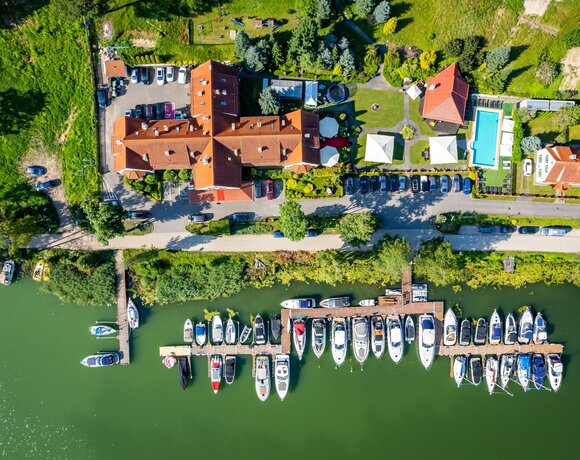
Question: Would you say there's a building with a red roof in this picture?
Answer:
Yes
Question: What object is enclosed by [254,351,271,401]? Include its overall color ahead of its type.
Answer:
white boat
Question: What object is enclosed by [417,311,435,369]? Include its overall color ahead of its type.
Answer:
white boat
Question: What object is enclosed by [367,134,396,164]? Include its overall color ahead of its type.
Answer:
white tent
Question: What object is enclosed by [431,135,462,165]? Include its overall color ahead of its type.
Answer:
white tent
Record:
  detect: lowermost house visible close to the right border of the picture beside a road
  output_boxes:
[532,145,580,195]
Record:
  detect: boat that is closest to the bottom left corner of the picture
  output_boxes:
[80,352,121,367]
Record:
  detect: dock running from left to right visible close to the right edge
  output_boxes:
[434,343,563,356]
